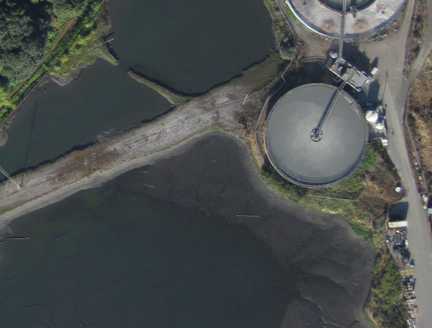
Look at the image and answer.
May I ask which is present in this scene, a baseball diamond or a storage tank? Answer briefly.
storage tank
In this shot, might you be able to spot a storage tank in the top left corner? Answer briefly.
No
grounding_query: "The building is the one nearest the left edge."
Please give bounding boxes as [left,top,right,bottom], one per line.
[327,57,370,93]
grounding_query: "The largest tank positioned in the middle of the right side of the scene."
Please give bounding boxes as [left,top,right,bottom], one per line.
[262,81,369,187]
